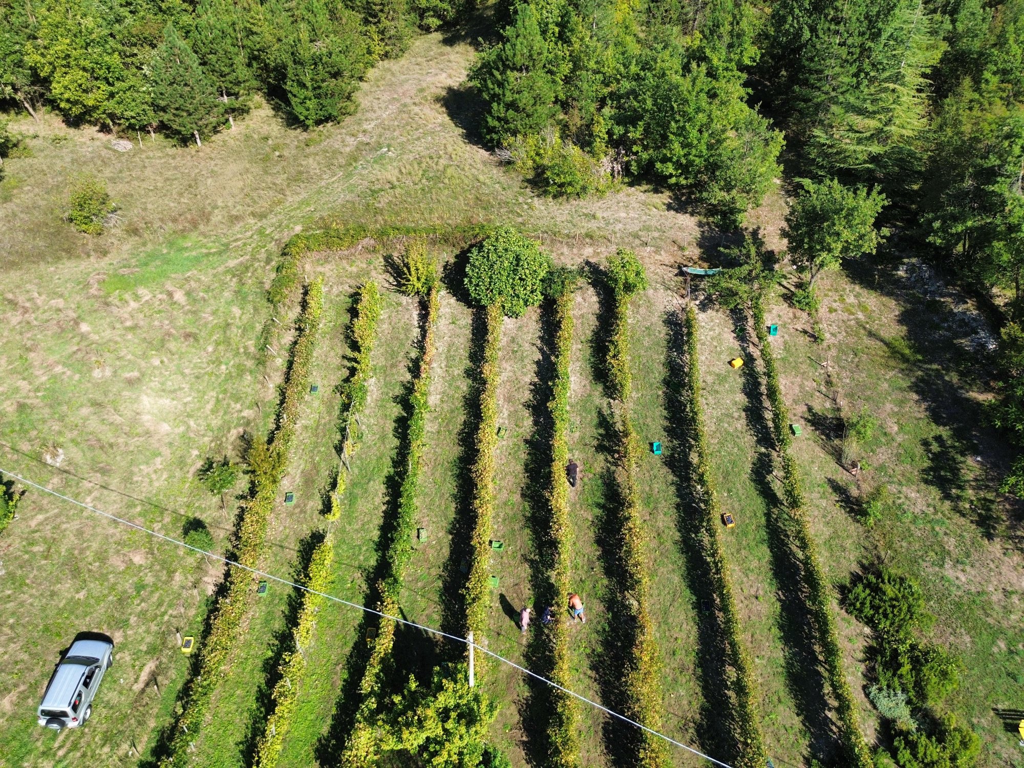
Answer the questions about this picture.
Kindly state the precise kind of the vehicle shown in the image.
car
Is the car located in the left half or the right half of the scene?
left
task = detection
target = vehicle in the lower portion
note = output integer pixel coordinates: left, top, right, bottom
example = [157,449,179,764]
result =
[33,643,112,733]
